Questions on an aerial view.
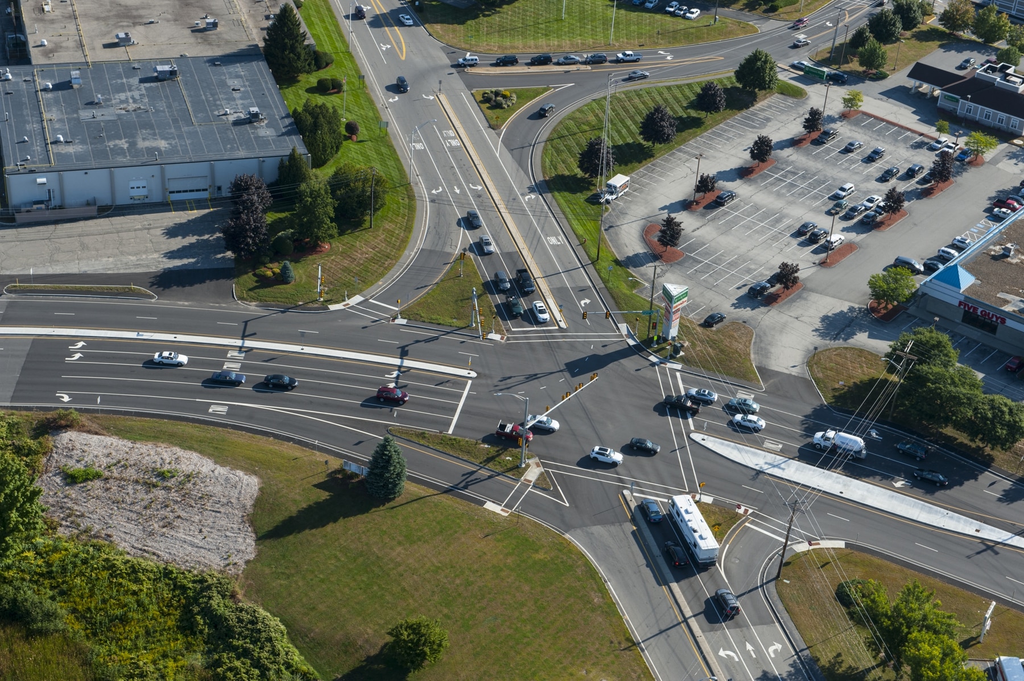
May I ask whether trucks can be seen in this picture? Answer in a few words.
Yes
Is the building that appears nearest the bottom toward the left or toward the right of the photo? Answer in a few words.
right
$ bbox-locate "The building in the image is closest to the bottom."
[906,207,1024,357]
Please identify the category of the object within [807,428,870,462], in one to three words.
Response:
truck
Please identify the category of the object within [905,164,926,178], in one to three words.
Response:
car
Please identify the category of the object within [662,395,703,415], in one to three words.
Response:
vehicle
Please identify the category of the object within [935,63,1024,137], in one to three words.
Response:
building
